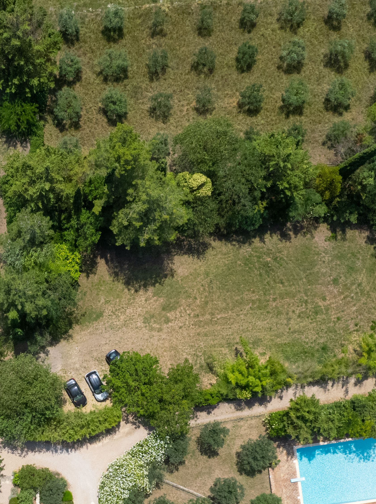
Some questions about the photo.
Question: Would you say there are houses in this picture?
No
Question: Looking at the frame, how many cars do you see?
3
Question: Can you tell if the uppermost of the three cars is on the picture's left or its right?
left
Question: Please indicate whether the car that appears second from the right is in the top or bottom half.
bottom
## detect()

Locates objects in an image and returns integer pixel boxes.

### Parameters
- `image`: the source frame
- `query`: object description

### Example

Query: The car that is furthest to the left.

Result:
[64,377,86,410]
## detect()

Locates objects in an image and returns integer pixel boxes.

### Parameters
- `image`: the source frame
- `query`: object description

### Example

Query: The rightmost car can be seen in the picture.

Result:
[103,342,127,369]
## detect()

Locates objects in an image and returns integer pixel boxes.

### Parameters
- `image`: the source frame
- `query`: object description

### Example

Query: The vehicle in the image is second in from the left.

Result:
[85,368,109,402]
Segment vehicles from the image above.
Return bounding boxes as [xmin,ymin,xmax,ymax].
[85,368,109,402]
[64,377,86,410]
[103,342,127,369]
